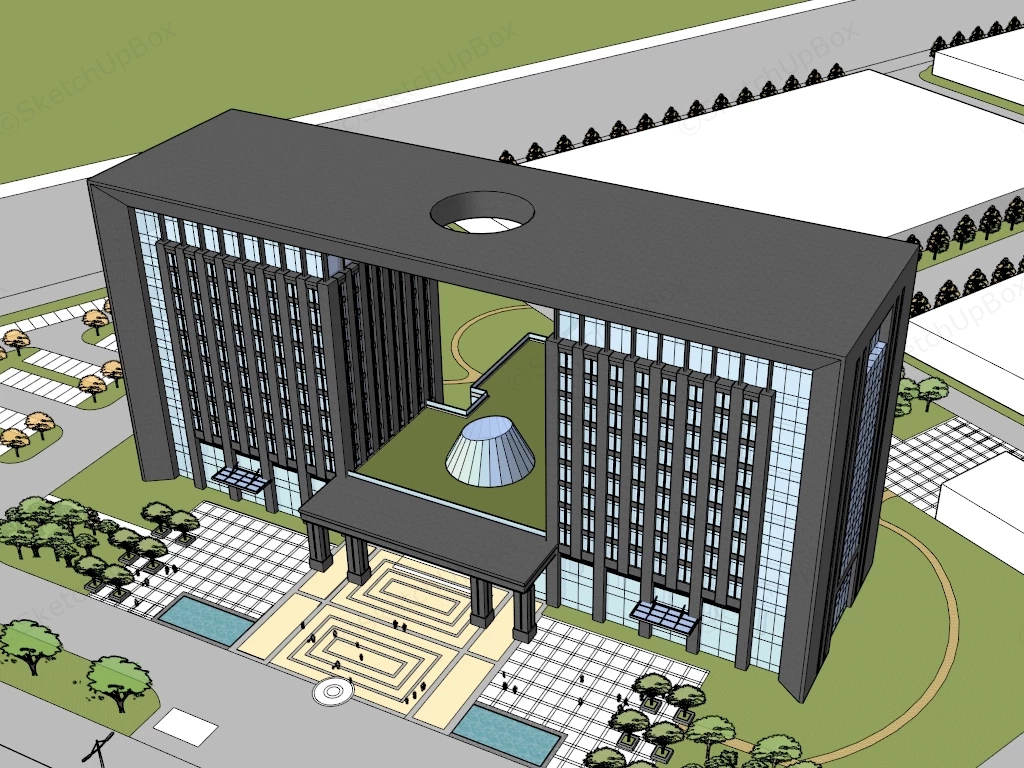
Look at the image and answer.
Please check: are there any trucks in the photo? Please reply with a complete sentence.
No, there appears to be no truck in this shot.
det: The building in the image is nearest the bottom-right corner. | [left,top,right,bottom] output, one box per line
[935,451,1024,574]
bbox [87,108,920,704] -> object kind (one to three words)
building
